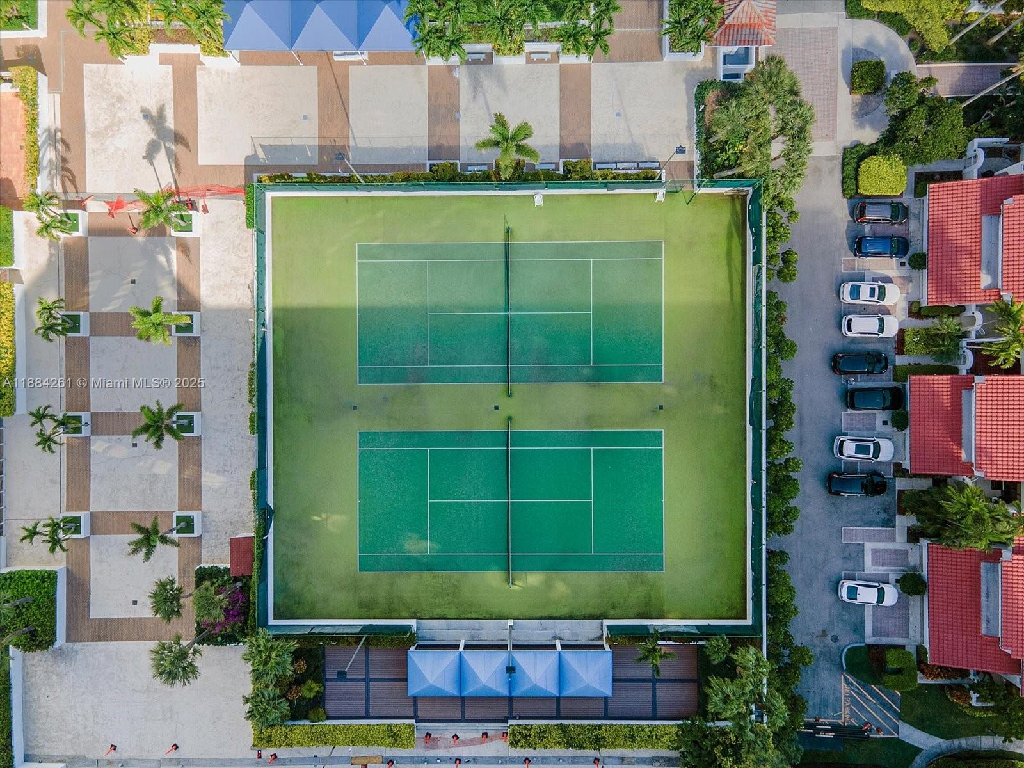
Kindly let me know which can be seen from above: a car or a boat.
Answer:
car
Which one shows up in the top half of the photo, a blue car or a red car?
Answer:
blue car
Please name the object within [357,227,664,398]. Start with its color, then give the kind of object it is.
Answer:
green tennis court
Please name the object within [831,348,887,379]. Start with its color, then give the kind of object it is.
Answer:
black car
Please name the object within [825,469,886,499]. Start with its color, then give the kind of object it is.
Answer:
black car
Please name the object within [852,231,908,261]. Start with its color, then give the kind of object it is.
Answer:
blue car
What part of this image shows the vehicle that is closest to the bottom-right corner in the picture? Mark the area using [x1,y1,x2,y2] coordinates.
[836,577,897,610]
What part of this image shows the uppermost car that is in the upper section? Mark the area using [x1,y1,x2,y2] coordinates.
[853,197,908,228]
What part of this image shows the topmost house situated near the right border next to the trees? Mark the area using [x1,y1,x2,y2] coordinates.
[921,173,1024,305]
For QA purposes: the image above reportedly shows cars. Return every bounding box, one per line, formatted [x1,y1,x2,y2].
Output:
[840,310,897,341]
[838,278,898,308]
[853,197,908,228]
[832,435,893,465]
[852,231,908,261]
[846,384,903,414]
[831,348,887,379]
[836,577,897,610]
[825,469,886,499]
